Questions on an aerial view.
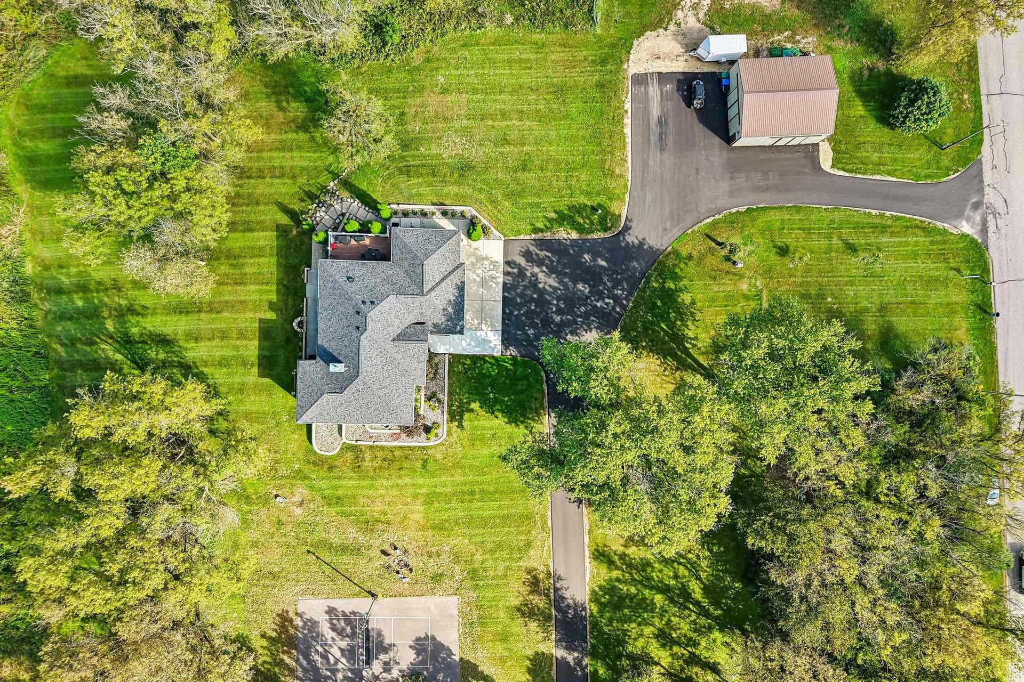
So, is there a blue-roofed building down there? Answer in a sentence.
No, this view has no blue-roofed building in it.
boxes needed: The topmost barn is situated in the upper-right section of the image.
[728,56,841,146]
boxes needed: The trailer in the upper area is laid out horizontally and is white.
[687,35,747,62]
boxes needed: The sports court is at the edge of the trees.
[295,596,460,682]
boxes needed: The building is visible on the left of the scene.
[296,227,466,425]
